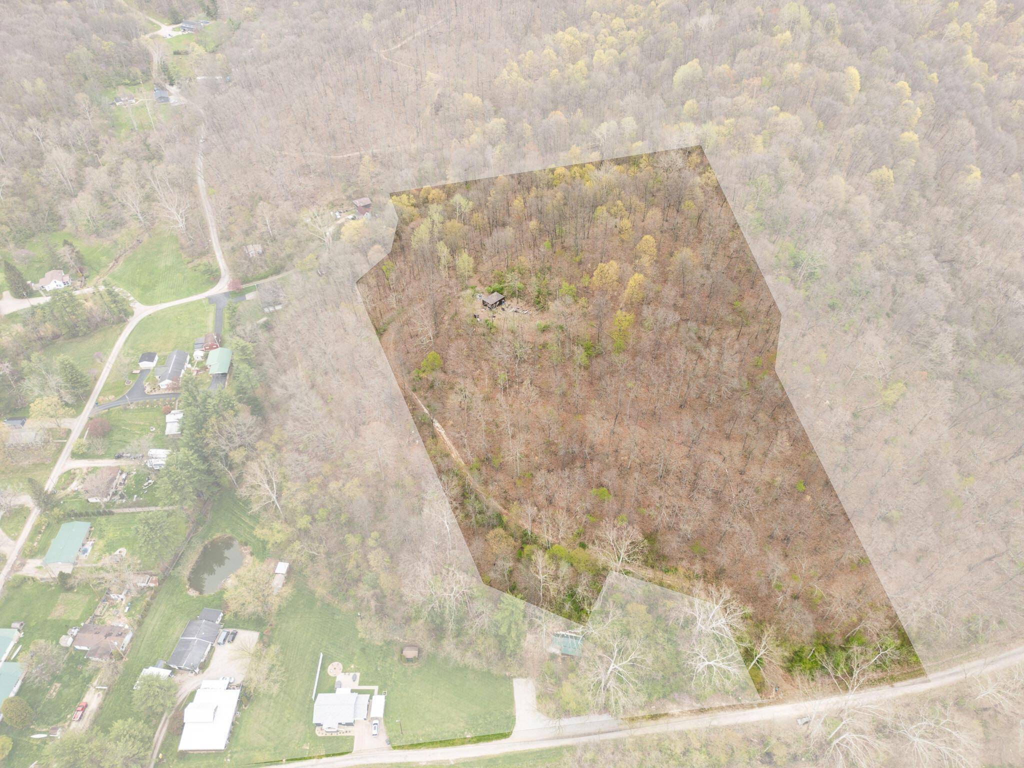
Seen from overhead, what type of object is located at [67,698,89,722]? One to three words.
truck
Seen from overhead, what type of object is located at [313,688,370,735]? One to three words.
house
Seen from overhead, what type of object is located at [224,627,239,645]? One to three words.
car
